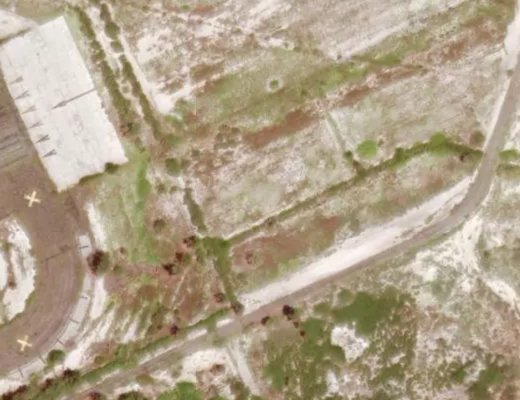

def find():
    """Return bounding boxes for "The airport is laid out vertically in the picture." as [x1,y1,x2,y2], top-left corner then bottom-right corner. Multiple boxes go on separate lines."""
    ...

[0,17,127,387]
